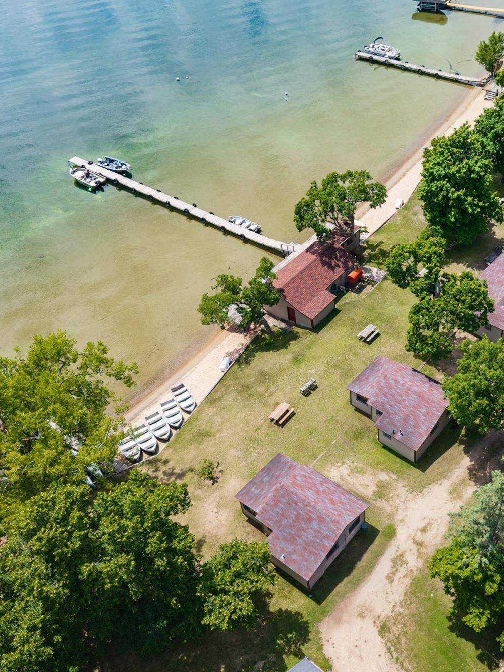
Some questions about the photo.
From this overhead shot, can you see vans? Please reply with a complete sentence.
No, the frame has no van in it.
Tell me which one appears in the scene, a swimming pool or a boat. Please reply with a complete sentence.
Looking from above, you can make out a boat.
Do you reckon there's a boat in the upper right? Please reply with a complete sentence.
Yes, looking in the upper right, one can make out a boat.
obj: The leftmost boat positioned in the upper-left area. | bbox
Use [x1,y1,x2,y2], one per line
[69,169,107,190]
